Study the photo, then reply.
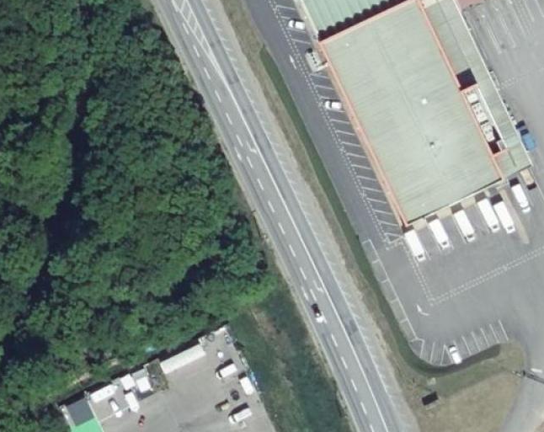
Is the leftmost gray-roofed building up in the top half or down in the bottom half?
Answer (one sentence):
It is in the bottom half that the leftmost gray-roofed building appears.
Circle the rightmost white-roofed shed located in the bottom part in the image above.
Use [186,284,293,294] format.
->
[160,345,206,373]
